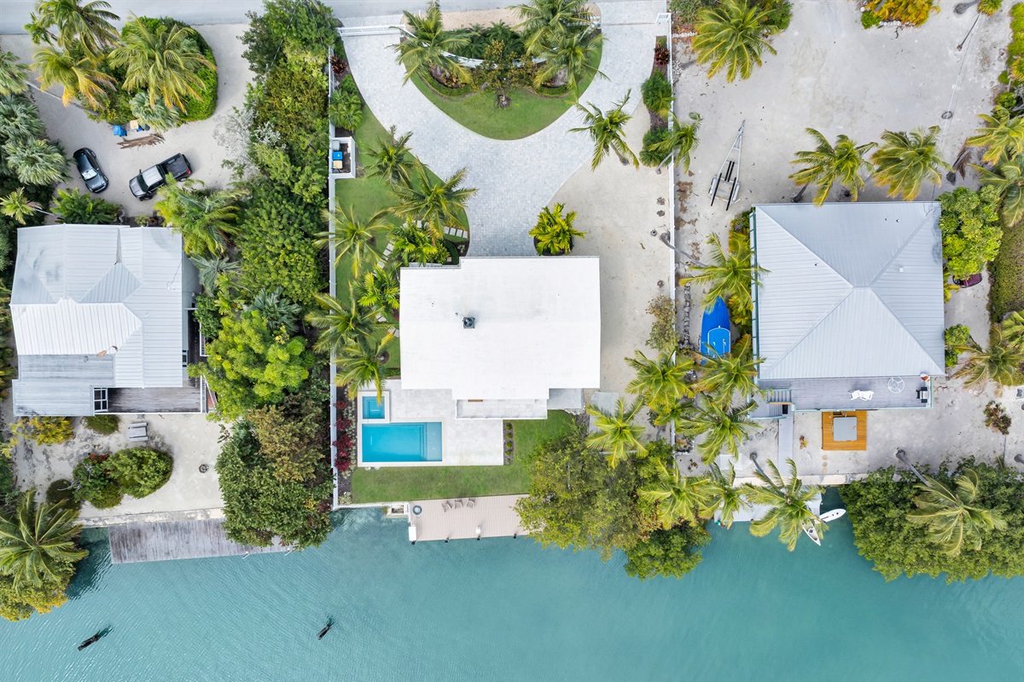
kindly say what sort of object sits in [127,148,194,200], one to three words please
truck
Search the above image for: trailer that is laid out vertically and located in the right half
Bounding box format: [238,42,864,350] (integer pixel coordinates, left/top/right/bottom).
[710,120,742,210]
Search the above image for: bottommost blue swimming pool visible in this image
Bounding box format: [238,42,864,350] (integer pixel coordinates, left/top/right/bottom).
[358,419,446,466]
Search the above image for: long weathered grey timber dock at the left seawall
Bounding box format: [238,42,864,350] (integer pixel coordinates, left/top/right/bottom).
[109,518,291,564]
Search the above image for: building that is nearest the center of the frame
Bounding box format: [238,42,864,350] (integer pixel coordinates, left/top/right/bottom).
[400,255,601,419]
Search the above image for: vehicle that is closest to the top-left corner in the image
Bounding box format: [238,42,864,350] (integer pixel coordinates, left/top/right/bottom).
[68,146,108,194]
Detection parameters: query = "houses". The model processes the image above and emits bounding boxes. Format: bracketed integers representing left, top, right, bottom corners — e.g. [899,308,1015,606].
[10,223,216,417]
[739,201,945,417]
[400,255,601,419]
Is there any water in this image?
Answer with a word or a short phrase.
Yes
